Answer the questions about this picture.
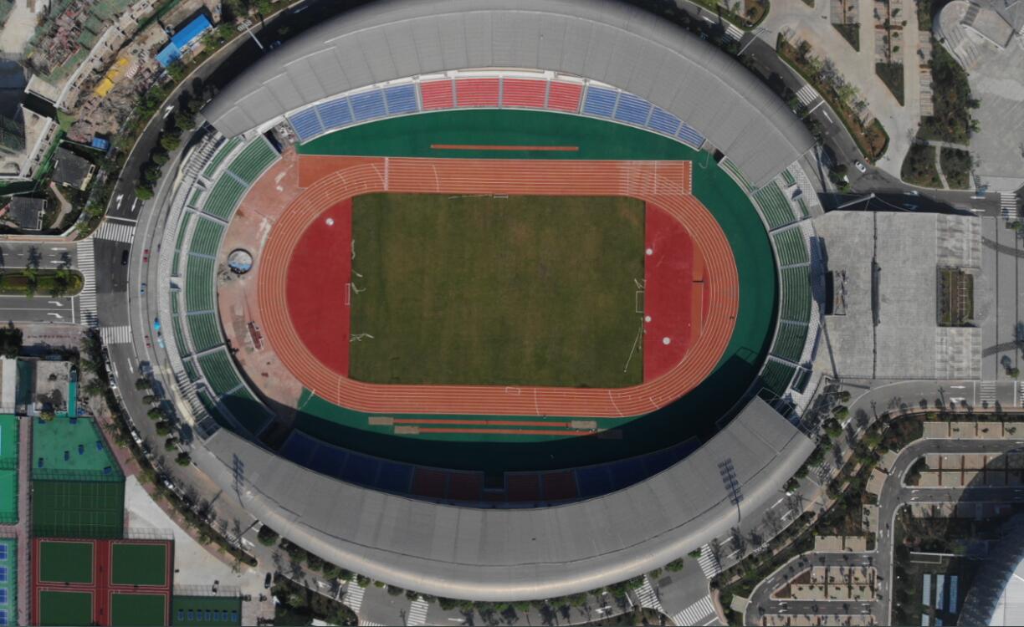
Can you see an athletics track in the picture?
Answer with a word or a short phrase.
Yes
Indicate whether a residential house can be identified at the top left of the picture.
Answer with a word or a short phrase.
Yes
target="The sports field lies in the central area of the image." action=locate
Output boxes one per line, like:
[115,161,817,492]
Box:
[351,194,645,386]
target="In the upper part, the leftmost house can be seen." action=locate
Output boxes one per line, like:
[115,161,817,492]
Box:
[9,197,54,230]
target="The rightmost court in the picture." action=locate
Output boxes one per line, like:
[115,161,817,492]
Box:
[174,597,240,627]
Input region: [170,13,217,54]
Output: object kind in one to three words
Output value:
shed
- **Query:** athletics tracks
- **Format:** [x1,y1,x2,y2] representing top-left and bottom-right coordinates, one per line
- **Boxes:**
[257,110,777,471]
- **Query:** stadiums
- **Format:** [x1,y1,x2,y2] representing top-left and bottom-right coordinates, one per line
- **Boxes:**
[155,0,835,601]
